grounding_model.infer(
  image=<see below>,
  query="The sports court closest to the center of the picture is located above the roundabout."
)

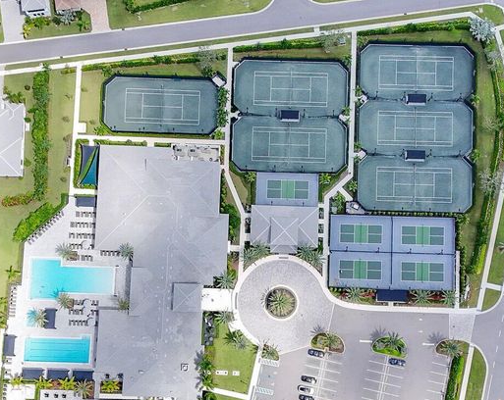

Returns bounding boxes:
[256,173,318,206]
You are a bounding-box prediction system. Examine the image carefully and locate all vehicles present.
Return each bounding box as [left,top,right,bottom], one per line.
[299,386,314,395]
[390,358,406,367]
[309,350,324,358]
[302,376,317,385]
[300,395,315,400]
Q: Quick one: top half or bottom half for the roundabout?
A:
bottom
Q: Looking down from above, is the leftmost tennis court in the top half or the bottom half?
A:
top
